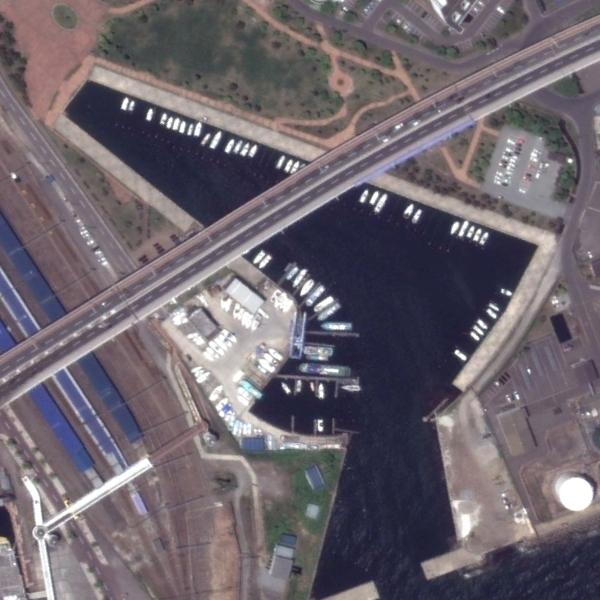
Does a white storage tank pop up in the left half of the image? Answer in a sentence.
No, I can find no white storage tank in the left half of the image.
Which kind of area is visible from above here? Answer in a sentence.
The area seen from above is a port.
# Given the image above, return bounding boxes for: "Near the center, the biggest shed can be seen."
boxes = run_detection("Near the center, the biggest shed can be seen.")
[225,276,264,315]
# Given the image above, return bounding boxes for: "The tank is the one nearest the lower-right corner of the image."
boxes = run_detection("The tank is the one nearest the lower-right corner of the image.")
[556,472,593,508]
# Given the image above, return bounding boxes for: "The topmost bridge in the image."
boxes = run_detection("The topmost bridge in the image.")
[0,14,600,406]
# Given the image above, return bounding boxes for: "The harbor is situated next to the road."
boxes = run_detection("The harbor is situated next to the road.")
[56,67,561,600]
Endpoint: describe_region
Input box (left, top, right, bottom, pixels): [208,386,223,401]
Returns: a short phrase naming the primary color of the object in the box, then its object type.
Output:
white boat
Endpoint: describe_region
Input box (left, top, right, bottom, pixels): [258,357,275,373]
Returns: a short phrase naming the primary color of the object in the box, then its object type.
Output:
white boat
